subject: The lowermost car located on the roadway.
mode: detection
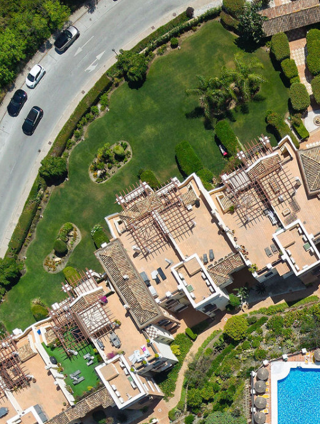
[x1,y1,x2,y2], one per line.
[22,104,45,137]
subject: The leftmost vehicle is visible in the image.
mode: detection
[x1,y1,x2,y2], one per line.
[7,87,29,119]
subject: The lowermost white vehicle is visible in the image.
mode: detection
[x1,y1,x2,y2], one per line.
[25,62,46,90]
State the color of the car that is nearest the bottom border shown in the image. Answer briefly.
black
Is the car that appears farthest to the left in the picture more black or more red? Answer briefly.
black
